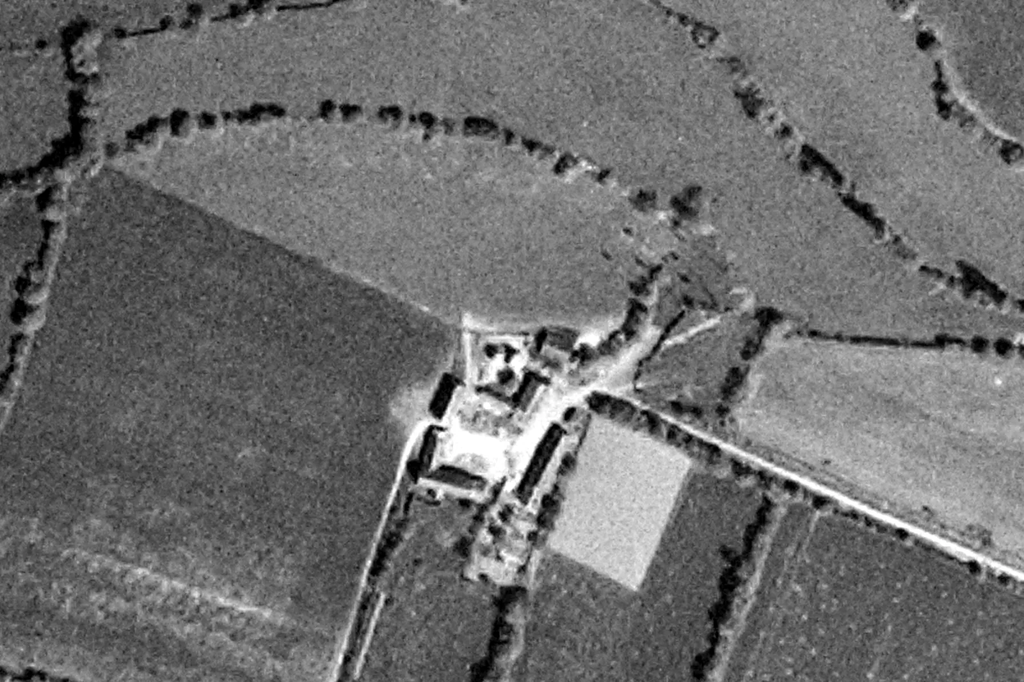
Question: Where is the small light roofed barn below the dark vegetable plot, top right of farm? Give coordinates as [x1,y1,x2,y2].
[540,341,571,363]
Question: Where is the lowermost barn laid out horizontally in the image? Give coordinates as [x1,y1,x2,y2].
[428,469,486,501]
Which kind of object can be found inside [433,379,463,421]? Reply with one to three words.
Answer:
barn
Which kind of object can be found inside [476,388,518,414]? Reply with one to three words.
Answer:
shed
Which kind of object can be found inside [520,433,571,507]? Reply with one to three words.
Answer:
shed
